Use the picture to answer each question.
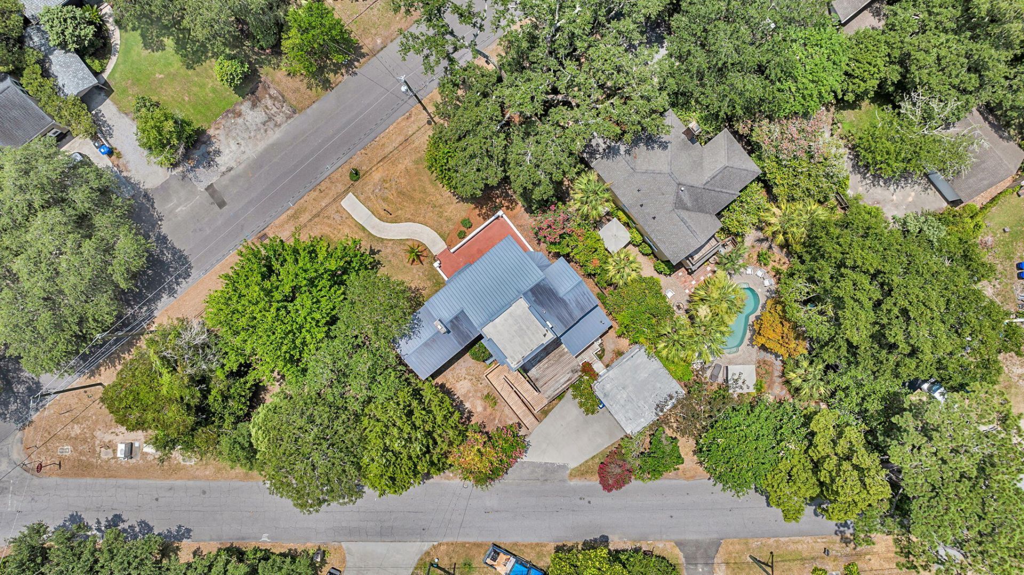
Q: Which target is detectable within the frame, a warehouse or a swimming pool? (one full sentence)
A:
Visible in the photo is a swimming pool.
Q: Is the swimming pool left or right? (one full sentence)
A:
The swimming pool sits on the right side.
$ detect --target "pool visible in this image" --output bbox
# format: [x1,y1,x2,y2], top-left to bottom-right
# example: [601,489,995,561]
[717,284,763,357]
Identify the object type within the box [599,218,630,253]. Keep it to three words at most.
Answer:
umbrella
